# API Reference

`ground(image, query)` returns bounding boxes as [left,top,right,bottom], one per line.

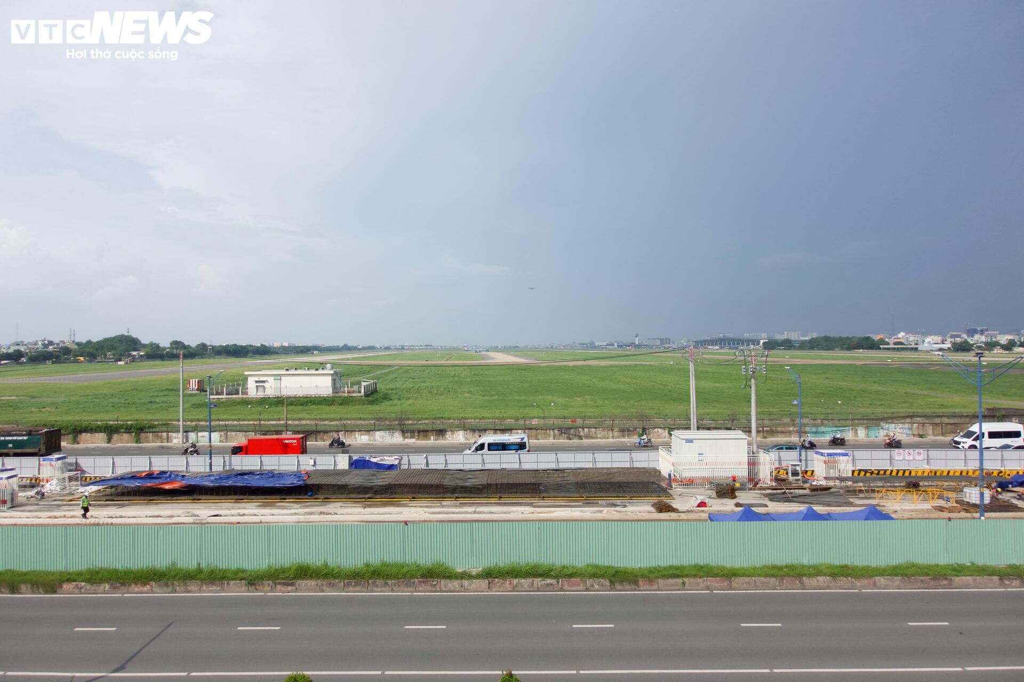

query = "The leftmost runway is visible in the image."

[0,358,318,383]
